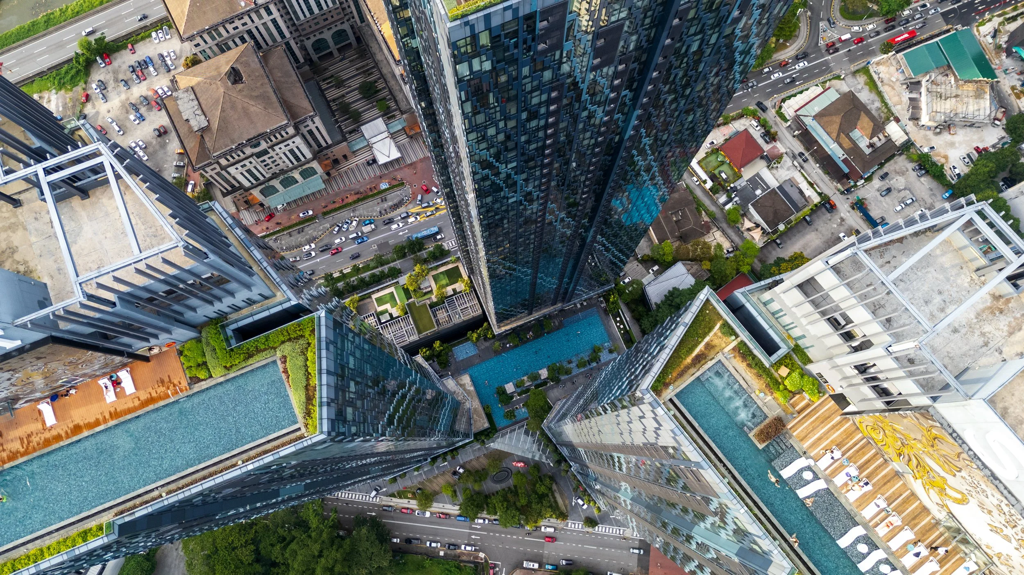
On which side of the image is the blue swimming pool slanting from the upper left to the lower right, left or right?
right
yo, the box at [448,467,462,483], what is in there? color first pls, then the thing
black vehicle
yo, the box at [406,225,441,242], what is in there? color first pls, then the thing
blue vehicle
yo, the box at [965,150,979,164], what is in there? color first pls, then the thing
gray vehicle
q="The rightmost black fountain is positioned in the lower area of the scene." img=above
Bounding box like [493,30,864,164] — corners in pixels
[490,468,512,484]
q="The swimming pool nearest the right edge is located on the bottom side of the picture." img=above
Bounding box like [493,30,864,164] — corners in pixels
[675,360,860,575]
